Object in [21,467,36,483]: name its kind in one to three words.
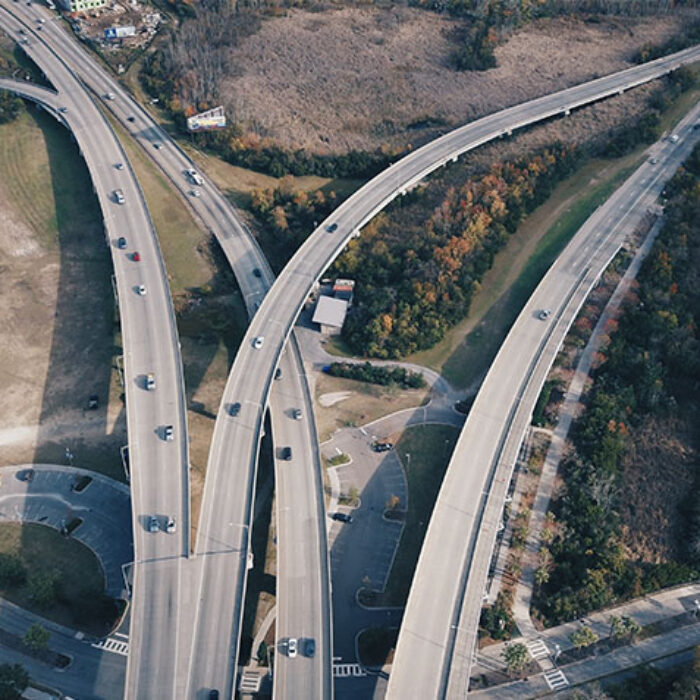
car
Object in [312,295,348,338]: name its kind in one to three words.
shed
